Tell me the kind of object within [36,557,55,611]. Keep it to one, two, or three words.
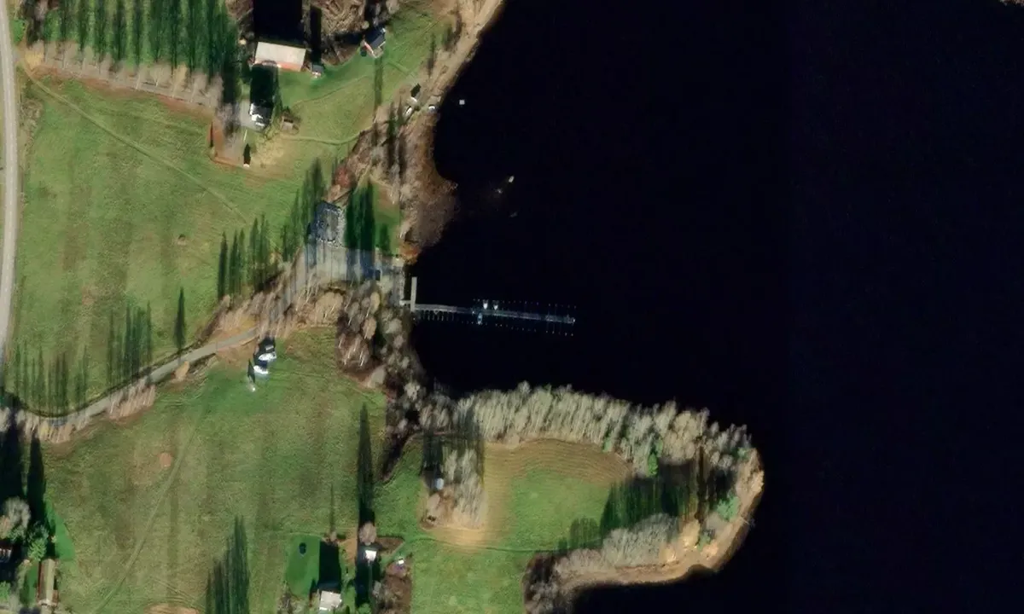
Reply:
building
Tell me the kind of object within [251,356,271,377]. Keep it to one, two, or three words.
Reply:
house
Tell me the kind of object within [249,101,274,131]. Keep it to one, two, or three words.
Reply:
house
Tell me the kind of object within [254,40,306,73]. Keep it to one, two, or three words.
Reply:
barn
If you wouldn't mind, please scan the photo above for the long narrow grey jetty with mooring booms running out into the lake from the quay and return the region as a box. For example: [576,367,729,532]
[403,276,575,323]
